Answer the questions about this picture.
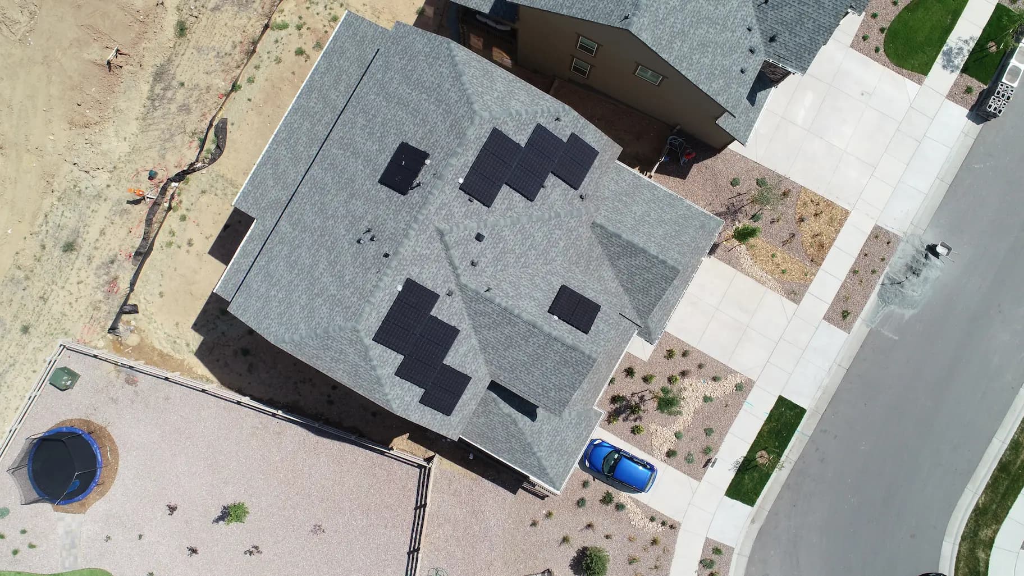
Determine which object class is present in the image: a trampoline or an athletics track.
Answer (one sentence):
The one in the frame is a trampoline.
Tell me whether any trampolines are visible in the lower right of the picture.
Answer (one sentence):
No, I see no trampoline in the lower right of the picture.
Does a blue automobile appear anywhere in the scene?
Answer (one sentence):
Yes, a blue automobile is visible in the scene.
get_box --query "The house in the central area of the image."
[212,9,726,496]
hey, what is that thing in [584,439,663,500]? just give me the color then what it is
blue car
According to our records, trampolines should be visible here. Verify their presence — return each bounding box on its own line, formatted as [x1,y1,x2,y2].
[6,424,113,509]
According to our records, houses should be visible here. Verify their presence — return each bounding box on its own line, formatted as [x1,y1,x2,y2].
[212,9,726,496]
[453,0,868,153]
